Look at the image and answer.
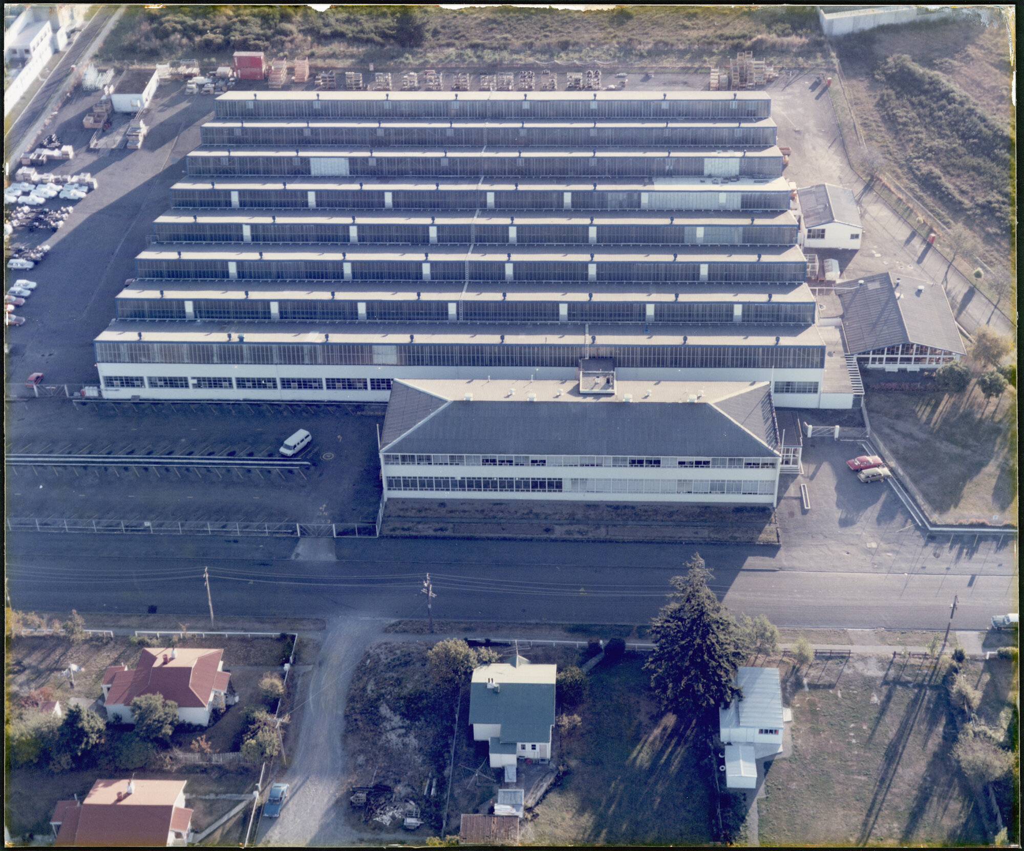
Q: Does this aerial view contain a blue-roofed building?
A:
Yes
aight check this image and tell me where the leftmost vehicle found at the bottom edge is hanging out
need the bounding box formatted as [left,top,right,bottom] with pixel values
[263,783,289,825]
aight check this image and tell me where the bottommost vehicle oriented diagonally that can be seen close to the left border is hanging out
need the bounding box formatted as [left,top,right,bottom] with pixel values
[22,371,48,389]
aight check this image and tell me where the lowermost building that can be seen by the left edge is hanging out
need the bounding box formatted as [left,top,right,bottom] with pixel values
[43,779,197,851]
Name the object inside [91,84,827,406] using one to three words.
building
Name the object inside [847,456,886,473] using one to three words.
car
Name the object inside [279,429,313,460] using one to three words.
van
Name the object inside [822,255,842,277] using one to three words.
shed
